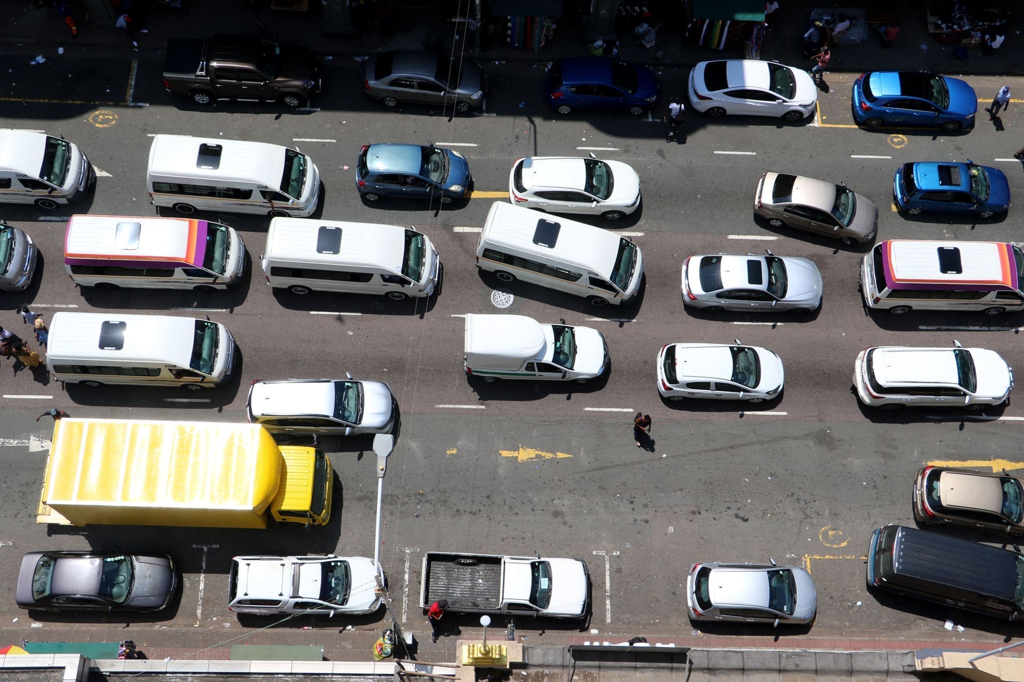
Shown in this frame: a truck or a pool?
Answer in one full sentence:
The image shows a truck.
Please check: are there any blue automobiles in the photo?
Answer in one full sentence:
Yes, the picture does show a blue automobile.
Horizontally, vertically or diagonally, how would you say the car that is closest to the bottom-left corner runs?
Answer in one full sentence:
I'd say the car that is closest to the bottom-left corner is aligned horizontally in the picture.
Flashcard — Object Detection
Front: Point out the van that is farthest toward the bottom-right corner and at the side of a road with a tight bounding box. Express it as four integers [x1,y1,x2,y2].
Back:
[858,531,1024,629]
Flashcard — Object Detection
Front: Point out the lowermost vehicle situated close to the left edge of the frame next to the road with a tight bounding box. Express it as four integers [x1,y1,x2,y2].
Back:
[11,542,183,617]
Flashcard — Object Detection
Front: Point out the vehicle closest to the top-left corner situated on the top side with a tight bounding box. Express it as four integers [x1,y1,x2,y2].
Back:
[0,134,93,214]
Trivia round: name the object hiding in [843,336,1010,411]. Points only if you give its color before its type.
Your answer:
white car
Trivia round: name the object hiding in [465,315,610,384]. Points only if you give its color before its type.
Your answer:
white truck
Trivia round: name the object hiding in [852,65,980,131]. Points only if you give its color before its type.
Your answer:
blue car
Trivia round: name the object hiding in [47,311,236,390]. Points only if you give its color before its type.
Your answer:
white vehicle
